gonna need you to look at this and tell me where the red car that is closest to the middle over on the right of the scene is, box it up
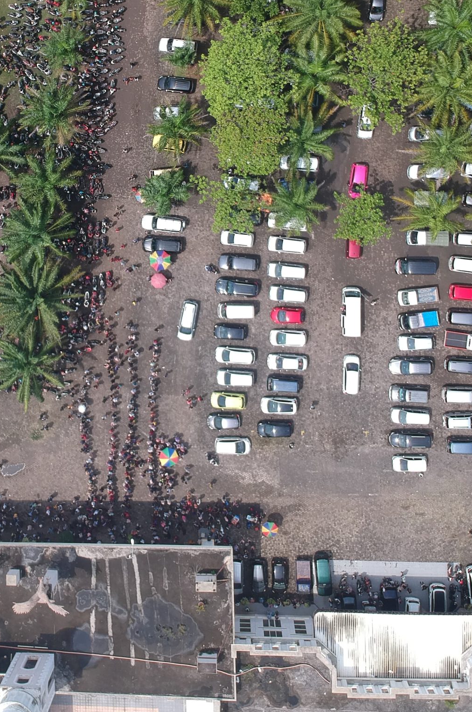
[269,306,305,324]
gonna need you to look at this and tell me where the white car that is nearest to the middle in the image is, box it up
[217,345,255,364]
